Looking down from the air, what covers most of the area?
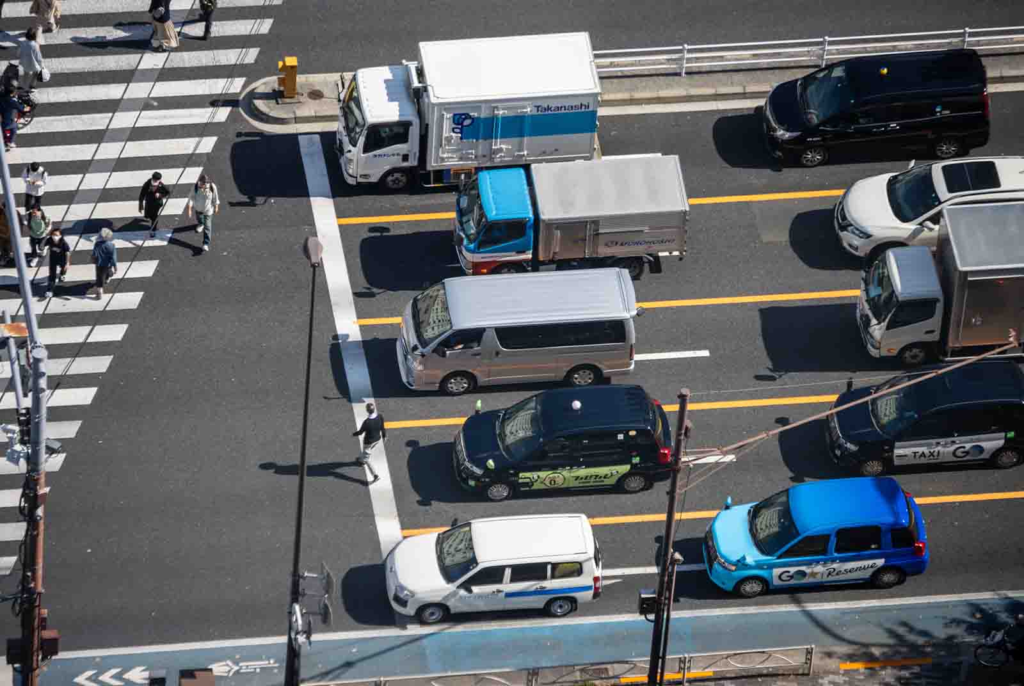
paved ground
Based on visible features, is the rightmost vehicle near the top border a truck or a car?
truck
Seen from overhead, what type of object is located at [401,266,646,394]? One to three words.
vehicle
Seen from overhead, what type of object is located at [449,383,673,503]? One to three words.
car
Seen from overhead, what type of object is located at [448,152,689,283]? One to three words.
truck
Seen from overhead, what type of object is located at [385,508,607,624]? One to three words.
car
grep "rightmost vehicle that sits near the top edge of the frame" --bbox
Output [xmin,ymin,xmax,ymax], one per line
[333,32,600,198]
